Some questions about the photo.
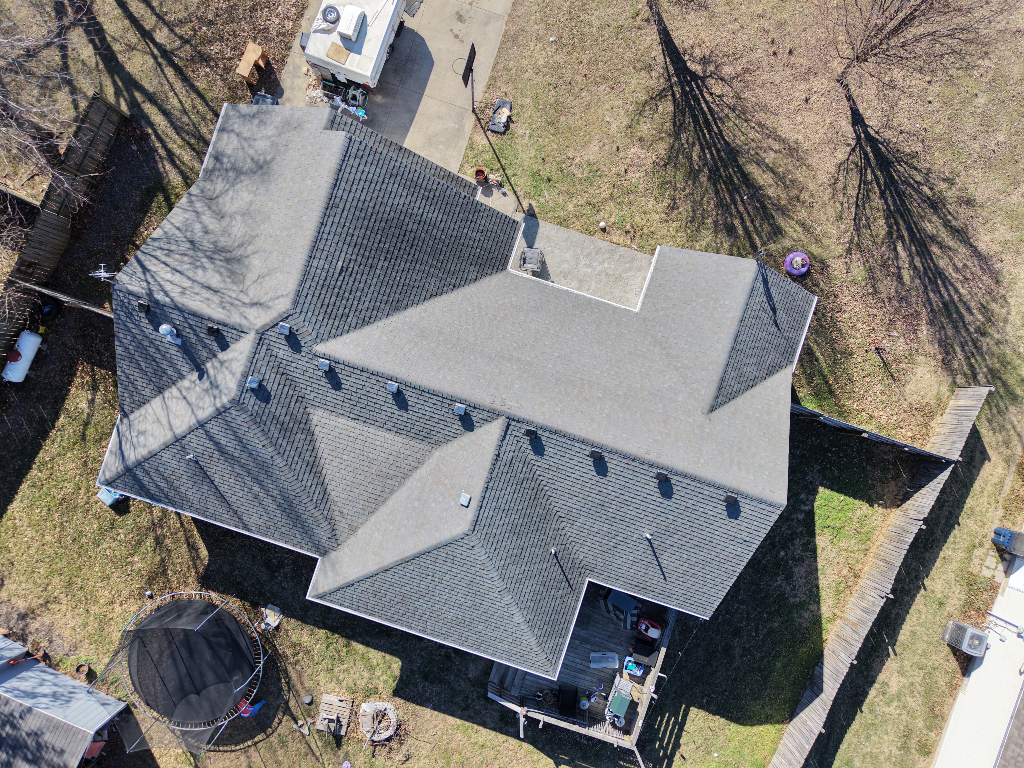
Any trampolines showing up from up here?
Yes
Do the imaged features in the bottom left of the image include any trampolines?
Yes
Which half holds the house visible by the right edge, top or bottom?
bottom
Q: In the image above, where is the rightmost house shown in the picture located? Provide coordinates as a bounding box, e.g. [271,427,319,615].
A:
[926,582,1024,768]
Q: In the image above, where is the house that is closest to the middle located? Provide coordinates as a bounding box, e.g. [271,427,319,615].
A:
[96,103,818,680]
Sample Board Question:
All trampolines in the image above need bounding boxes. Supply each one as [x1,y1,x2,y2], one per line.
[86,588,273,755]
